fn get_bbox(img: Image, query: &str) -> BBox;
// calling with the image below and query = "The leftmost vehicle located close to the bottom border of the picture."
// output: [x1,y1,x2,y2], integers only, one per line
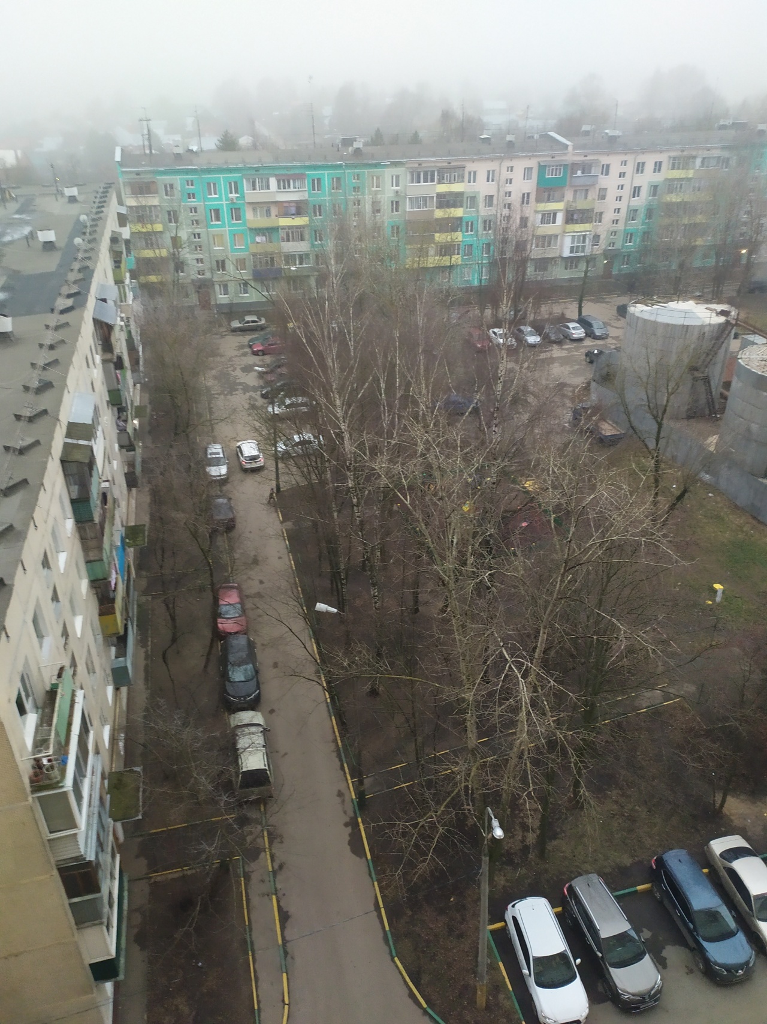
[500,887,598,1024]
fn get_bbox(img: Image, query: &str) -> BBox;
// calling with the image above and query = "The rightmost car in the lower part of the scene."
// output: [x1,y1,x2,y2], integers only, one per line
[706,830,767,947]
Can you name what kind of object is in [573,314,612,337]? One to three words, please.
car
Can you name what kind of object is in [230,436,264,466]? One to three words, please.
car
